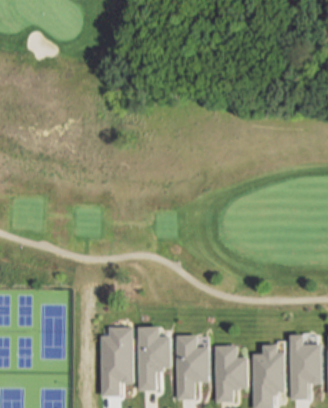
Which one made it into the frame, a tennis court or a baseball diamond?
tennis court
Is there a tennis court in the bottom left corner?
Yes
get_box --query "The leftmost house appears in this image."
[101,327,136,396]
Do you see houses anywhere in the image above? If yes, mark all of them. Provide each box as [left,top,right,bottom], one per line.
[101,327,136,396]
[176,334,212,400]
[138,326,173,390]
[253,344,286,408]
[290,334,324,398]
[215,345,250,402]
